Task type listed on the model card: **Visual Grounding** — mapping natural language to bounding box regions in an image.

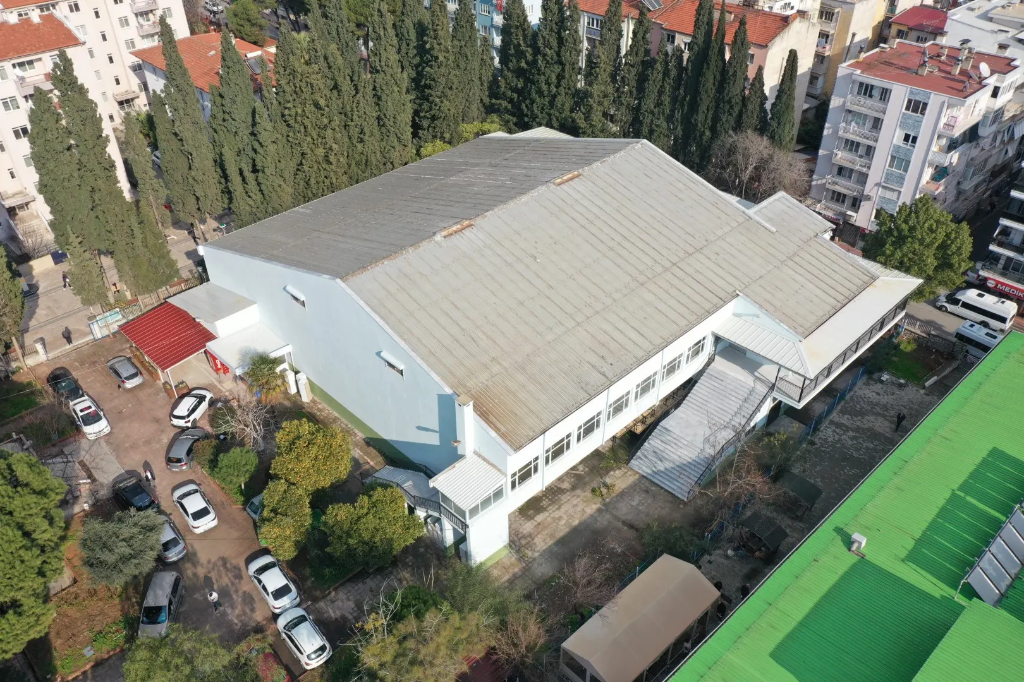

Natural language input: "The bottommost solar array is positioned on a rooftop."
[946,505,1024,622]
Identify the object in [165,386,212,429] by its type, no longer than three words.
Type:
car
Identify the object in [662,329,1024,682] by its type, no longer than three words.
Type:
building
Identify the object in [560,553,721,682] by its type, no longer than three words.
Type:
building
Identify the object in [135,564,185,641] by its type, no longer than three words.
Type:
car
